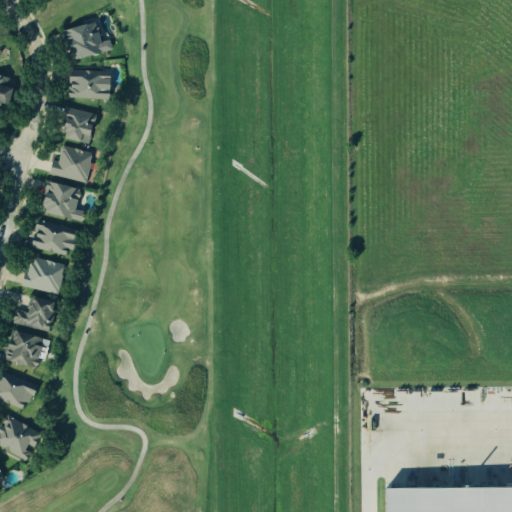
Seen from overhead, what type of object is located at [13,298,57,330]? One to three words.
house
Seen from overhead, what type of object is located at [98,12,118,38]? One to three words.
swimming pool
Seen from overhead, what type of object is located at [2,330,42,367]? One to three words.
house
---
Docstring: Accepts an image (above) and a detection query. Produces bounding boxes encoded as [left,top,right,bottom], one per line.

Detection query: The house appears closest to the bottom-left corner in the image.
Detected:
[0,415,40,460]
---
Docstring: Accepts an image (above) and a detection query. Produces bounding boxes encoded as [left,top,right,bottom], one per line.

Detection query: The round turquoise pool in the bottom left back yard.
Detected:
[4,470,24,488]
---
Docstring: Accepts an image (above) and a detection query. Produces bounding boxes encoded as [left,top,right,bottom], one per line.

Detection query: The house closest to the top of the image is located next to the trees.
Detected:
[64,21,114,60]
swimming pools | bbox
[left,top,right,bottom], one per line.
[111,64,122,92]
[4,470,24,488]
[98,12,118,38]
[82,192,98,212]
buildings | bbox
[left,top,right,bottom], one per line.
[0,74,14,104]
[21,258,64,294]
[13,298,57,330]
[387,488,512,512]
[2,330,42,367]
[32,224,75,258]
[0,373,38,408]
[48,144,92,184]
[42,182,84,222]
[62,107,98,144]
[0,415,40,460]
[64,21,114,60]
[68,68,112,99]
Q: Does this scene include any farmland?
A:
Yes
